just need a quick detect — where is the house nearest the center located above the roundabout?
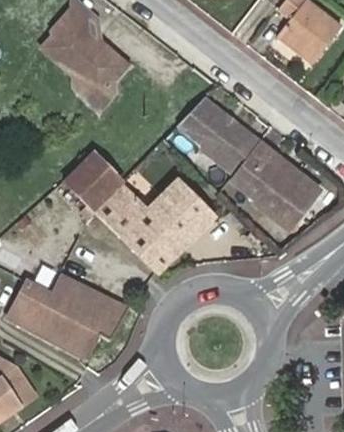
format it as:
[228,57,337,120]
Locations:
[95,177,219,274]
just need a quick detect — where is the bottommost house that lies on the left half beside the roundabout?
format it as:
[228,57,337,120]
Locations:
[4,272,128,363]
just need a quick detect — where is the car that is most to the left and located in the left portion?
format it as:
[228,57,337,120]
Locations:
[0,285,14,306]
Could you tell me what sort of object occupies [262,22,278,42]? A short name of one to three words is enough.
car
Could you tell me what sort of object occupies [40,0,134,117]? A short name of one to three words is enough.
house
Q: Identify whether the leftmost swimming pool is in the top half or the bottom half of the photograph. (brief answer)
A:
top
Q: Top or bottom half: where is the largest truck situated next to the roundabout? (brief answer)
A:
bottom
